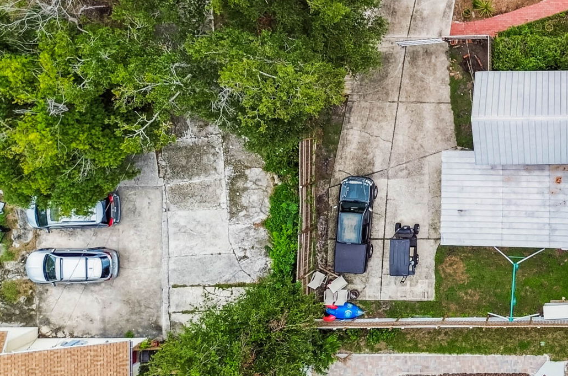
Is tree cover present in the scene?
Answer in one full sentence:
Yes, tree cover shows up in the scene.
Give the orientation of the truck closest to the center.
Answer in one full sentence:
I'd say the truck closest to the center is aligned from top to bottom in the picture.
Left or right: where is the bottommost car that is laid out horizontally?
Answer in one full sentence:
The bottommost car that is laid out horizontally sits on the left side.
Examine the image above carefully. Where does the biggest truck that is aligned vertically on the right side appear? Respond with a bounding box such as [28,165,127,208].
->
[328,171,377,278]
